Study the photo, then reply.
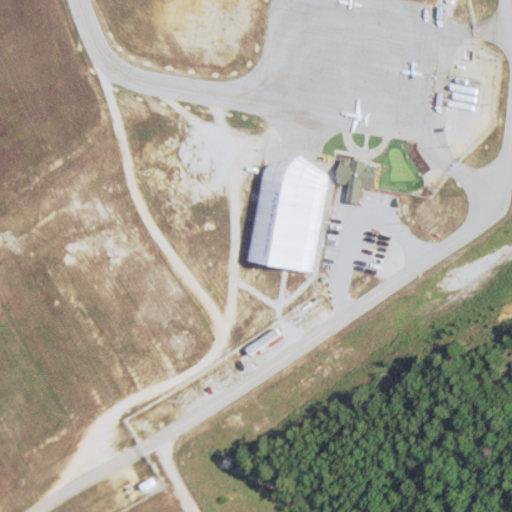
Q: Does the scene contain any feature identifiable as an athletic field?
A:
No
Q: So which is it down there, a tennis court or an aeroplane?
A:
aeroplane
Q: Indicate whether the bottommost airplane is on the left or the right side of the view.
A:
right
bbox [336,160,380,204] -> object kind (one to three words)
building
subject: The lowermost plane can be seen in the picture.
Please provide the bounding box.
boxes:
[341,99,372,133]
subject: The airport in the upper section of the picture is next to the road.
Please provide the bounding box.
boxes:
[70,0,509,275]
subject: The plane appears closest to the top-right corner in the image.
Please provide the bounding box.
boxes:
[402,62,422,78]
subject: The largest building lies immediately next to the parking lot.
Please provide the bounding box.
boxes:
[248,156,329,273]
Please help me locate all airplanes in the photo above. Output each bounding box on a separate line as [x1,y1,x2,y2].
[402,62,422,78]
[341,99,372,133]
[338,0,361,9]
